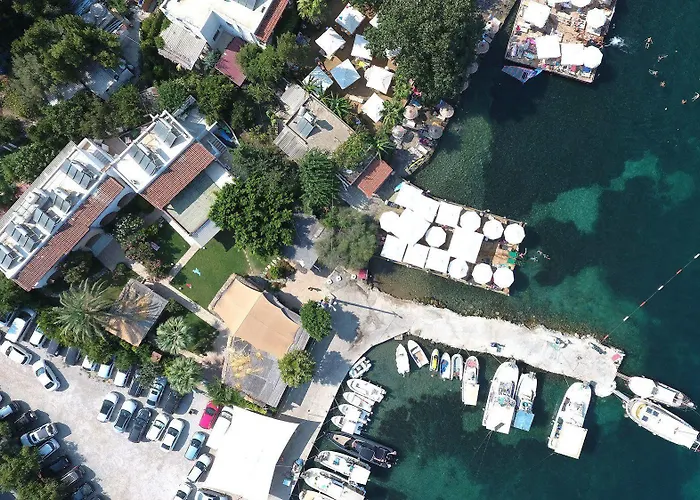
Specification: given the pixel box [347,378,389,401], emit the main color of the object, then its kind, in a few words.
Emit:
white boat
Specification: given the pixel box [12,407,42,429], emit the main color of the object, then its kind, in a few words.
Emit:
black car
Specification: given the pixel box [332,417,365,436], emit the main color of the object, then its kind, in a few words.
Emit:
white boat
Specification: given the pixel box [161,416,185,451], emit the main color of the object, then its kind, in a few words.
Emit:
white car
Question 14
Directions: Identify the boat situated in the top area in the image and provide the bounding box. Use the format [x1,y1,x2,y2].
[411,155,432,170]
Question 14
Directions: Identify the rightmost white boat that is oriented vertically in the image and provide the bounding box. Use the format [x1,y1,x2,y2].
[544,380,588,460]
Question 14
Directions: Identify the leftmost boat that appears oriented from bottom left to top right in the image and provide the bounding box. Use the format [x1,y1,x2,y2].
[349,354,374,377]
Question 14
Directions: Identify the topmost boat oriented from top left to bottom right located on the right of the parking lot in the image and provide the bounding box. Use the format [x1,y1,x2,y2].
[409,341,429,370]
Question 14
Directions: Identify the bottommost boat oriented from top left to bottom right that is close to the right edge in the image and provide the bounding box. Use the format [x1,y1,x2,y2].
[621,395,700,458]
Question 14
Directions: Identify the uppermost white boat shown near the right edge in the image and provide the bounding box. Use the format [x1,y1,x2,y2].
[622,374,700,410]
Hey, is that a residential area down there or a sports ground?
residential area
